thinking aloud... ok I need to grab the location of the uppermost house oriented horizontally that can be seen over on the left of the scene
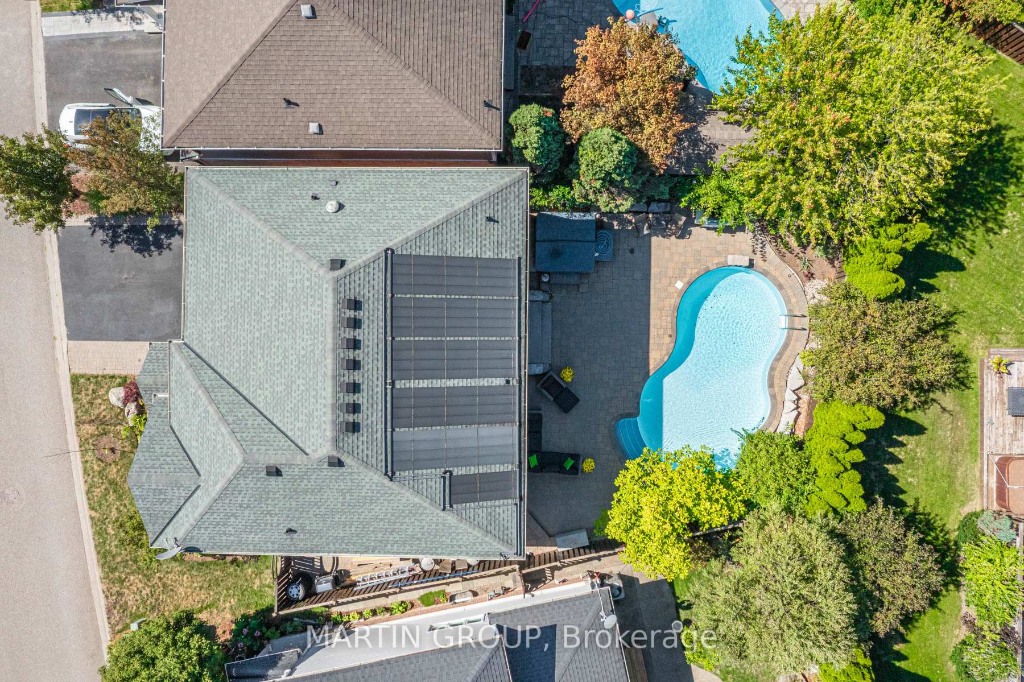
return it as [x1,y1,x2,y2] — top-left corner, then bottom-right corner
[115,0,504,168]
